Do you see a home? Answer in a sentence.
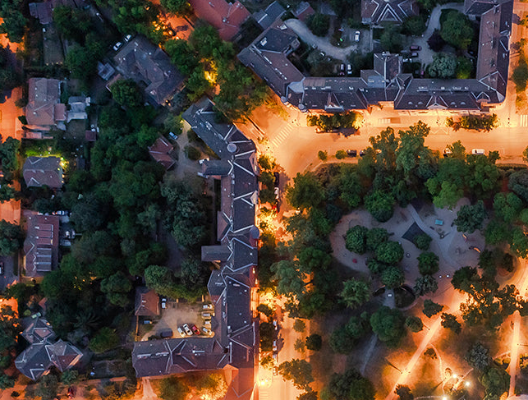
Yes, the image includes a home.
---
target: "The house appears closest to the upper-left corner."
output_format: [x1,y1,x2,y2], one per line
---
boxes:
[30,0,56,26]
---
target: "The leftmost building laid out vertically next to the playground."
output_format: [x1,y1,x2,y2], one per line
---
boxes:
[201,106,263,382]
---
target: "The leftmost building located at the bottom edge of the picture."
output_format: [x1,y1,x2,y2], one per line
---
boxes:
[17,313,90,382]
